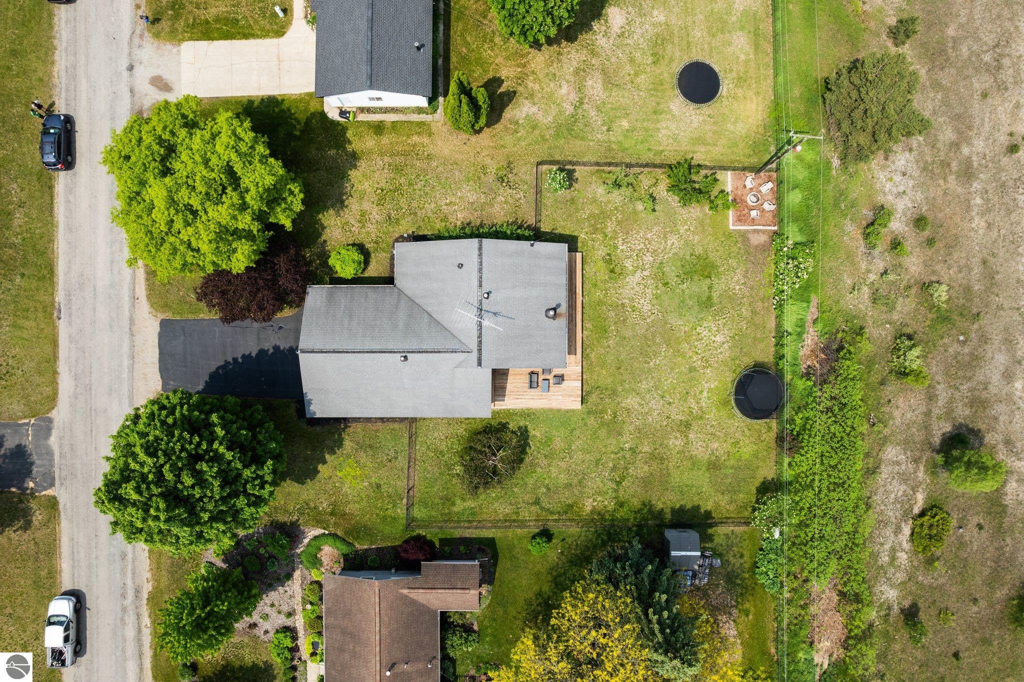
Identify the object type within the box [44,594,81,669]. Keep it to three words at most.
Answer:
truck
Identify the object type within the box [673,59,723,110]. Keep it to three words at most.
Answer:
trampoline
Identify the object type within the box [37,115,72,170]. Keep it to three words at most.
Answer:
car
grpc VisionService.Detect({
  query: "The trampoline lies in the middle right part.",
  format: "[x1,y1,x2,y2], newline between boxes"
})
[730,368,793,420]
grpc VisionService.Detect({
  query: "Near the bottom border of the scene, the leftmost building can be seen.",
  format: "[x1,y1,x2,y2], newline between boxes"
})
[312,546,488,682]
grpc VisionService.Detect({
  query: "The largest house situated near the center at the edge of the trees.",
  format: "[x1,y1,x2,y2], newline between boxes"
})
[298,238,568,419]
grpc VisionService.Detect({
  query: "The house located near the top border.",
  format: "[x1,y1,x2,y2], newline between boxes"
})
[310,0,433,108]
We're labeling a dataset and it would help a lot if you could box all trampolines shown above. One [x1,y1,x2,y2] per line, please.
[730,368,793,420]
[673,59,723,110]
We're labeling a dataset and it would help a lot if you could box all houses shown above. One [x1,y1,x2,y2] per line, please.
[312,546,488,682]
[298,238,568,419]
[310,0,433,108]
